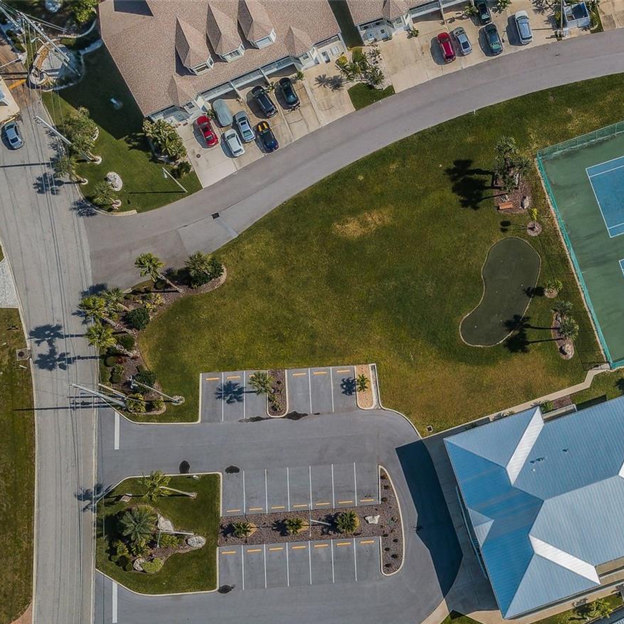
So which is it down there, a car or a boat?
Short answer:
car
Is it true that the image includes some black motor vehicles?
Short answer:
Yes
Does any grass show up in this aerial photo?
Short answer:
Yes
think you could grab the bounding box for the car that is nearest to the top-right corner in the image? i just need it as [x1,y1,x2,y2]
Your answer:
[516,11,532,45]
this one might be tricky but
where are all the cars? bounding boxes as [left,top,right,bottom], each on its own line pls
[474,0,491,25]
[453,27,471,56]
[516,11,532,45]
[257,123,277,154]
[254,87,274,119]
[484,25,502,56]
[225,129,245,159]
[236,112,255,142]
[437,32,455,63]
[4,120,25,151]
[198,121,217,146]
[278,77,299,108]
